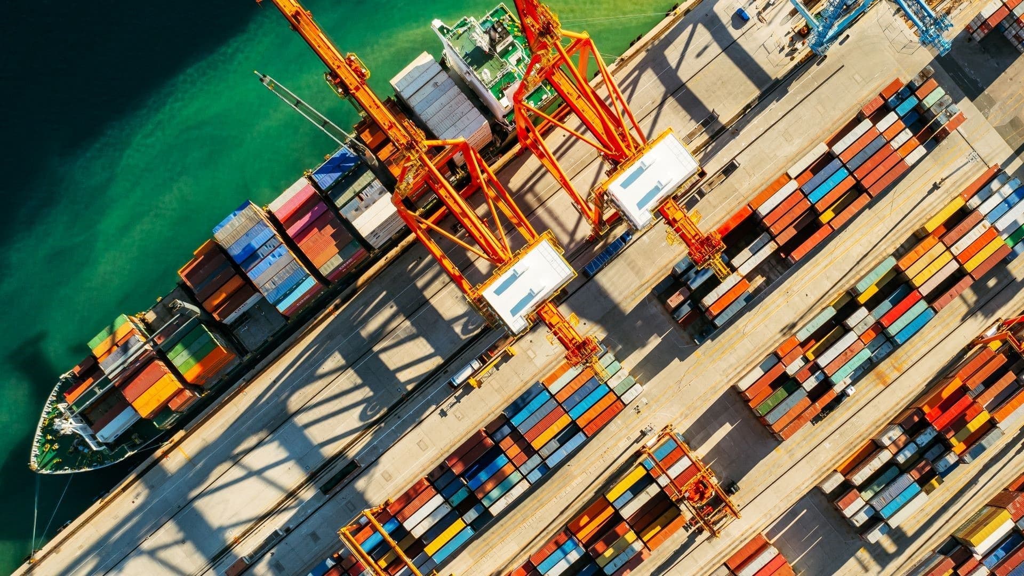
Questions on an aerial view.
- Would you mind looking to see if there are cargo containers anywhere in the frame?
Yes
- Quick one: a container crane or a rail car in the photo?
container crane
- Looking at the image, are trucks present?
Yes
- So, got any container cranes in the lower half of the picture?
Yes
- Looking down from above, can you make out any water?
Yes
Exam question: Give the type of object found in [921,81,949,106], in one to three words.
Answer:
shipping container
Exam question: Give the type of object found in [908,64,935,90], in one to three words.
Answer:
shipping container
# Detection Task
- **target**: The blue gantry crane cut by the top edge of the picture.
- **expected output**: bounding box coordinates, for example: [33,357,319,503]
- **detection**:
[765,0,985,84]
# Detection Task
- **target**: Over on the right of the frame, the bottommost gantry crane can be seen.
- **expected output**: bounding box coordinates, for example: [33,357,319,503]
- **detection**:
[634,420,746,539]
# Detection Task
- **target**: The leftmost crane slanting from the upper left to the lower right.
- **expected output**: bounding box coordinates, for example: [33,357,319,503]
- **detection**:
[253,70,389,177]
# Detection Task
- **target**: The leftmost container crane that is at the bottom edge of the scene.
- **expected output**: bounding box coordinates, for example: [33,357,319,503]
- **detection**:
[338,501,442,576]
